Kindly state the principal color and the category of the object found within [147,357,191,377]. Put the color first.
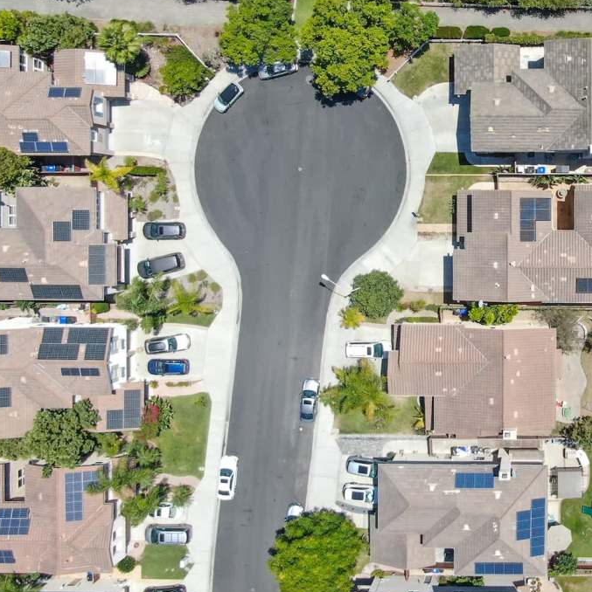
blue car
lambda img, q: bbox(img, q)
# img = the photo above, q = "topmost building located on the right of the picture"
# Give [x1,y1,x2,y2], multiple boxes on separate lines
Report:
[455,31,592,162]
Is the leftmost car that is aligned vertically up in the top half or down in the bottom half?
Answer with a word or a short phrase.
bottom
